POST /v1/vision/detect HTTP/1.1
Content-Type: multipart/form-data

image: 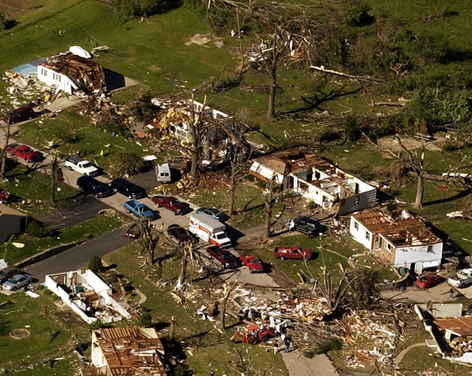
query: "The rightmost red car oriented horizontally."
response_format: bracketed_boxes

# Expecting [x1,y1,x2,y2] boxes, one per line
[411,275,445,292]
